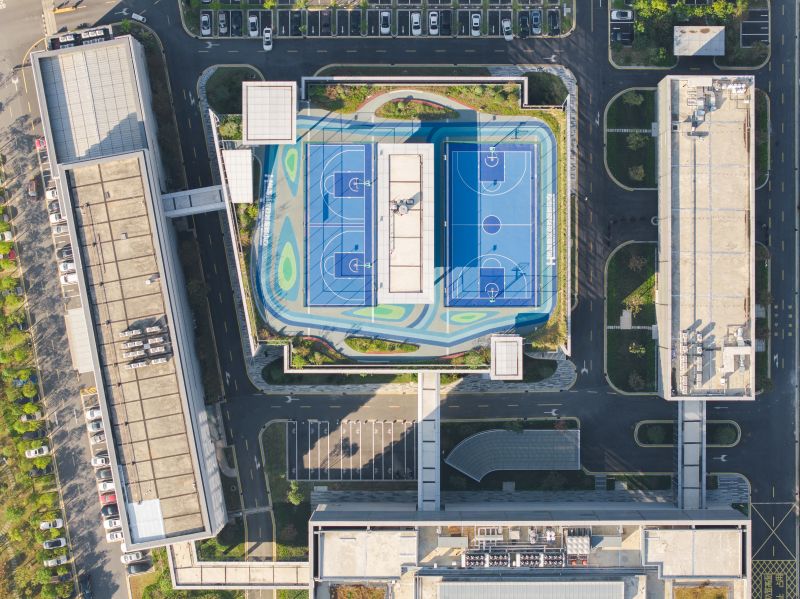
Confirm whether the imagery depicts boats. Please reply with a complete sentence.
No, there appears to be no boat in this shot.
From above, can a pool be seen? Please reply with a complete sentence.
No, no pool is visible in the view.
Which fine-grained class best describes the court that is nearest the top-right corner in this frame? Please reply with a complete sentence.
Specifically, the court that is nearest the top-right corner is a basketball court.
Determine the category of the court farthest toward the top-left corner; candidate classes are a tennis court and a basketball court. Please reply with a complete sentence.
What you see as the court farthest toward the top-left corner is a basketball court.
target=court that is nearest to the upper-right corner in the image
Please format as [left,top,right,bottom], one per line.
[444,141,541,307]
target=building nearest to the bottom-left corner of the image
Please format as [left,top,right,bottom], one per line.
[52,150,224,551]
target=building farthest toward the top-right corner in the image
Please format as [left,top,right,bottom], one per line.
[673,26,726,55]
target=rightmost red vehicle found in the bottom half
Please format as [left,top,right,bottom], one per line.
[97,491,118,504]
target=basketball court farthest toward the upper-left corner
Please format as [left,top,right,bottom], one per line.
[306,143,378,306]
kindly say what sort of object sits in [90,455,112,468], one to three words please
vehicle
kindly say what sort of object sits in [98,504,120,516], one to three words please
vehicle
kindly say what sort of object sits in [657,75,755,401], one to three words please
building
